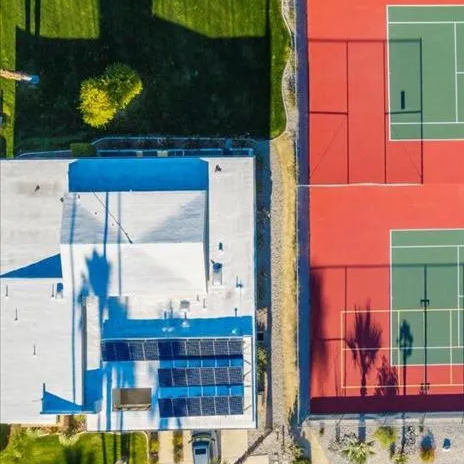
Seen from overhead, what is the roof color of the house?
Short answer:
white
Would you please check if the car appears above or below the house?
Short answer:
below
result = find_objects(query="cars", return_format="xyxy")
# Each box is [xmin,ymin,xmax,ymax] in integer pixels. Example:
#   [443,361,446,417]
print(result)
[185,429,214,464]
